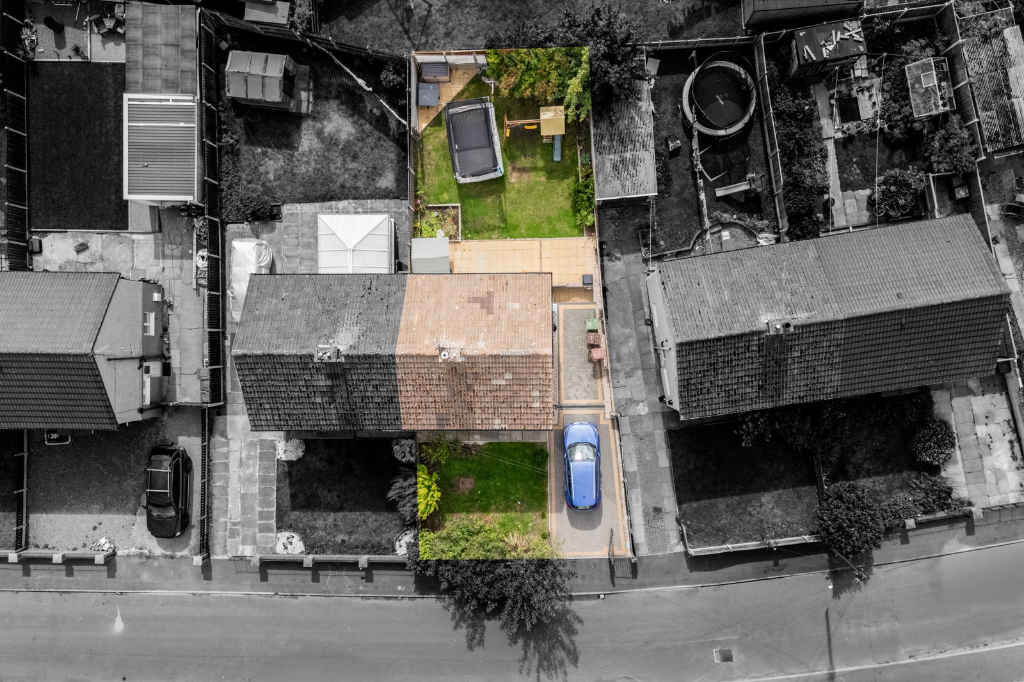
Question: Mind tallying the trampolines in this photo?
2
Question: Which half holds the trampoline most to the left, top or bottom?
top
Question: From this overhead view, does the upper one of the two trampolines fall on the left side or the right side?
right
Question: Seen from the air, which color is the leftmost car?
black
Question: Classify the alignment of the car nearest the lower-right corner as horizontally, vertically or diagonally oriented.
vertically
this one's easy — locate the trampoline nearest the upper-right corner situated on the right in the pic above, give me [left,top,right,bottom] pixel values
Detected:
[681,53,756,132]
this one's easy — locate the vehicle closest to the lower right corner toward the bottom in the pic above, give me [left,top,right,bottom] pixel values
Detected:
[561,422,603,513]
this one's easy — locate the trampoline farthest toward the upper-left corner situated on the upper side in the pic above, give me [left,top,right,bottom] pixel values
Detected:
[442,96,504,184]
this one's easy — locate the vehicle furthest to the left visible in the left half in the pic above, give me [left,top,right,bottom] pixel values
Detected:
[144,449,192,538]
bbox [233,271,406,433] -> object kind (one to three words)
house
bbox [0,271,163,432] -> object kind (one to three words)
house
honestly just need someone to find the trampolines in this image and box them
[681,53,756,132]
[442,96,504,184]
